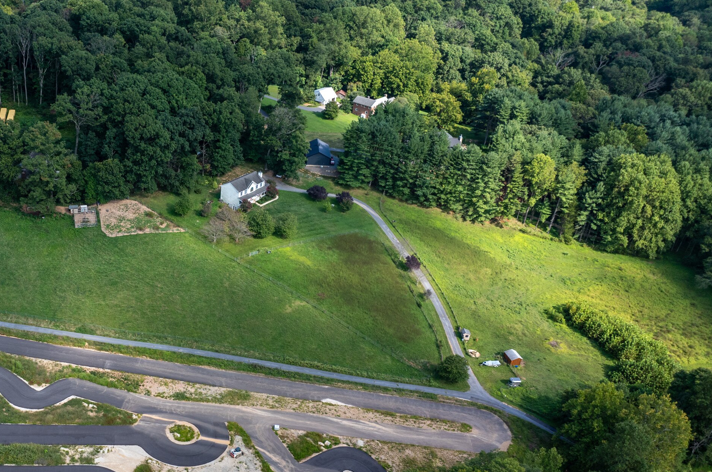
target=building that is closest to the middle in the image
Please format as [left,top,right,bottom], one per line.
[304,136,331,167]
